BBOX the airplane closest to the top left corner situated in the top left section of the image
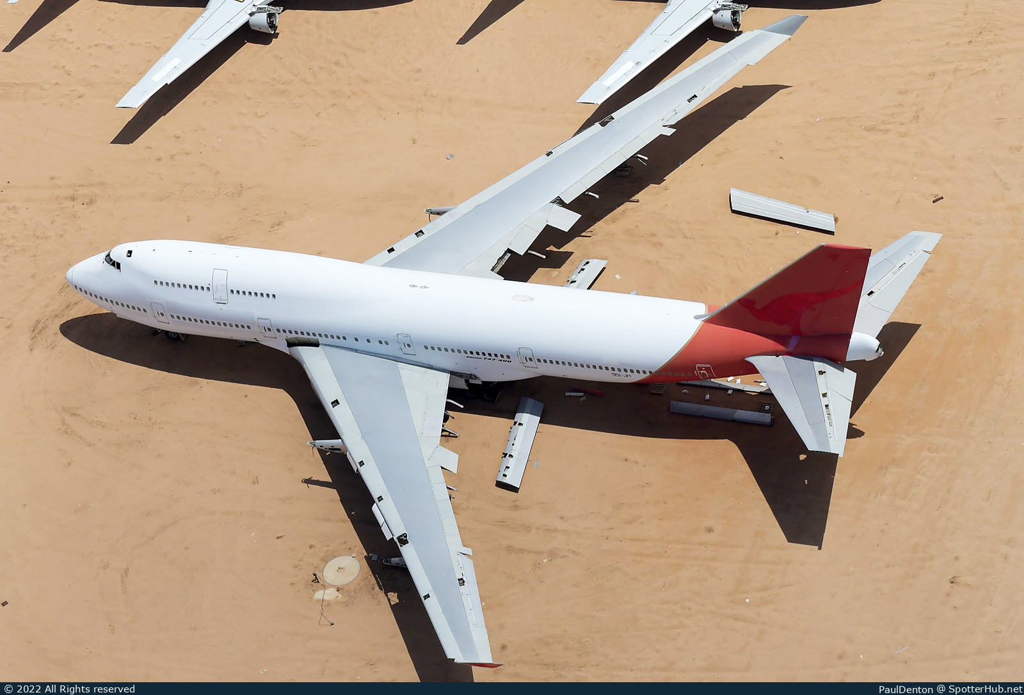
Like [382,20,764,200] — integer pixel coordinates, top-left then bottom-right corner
[115,0,290,107]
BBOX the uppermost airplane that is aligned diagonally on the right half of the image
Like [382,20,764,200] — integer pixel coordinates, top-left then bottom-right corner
[579,0,754,102]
